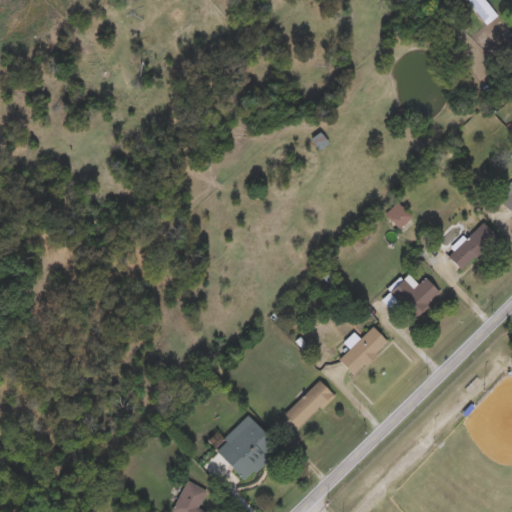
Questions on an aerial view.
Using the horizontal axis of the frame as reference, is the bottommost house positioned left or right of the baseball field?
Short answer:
to the left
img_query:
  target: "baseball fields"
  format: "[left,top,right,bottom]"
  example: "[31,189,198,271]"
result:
[392,374,512,512]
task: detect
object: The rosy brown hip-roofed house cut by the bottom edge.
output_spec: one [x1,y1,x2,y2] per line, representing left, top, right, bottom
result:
[170,482,206,512]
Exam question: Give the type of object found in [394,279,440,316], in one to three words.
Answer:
house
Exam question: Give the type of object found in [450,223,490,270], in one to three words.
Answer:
house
